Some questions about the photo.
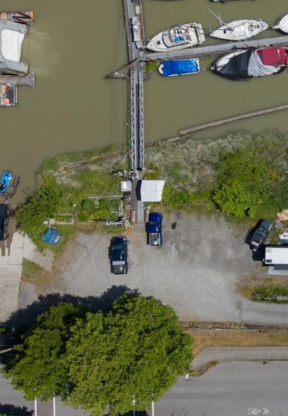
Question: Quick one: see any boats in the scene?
Yes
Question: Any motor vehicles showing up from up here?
Yes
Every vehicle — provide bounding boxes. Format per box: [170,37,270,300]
[145,213,164,246]
[108,237,130,275]
[262,238,288,271]
[0,203,12,240]
[245,217,273,253]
